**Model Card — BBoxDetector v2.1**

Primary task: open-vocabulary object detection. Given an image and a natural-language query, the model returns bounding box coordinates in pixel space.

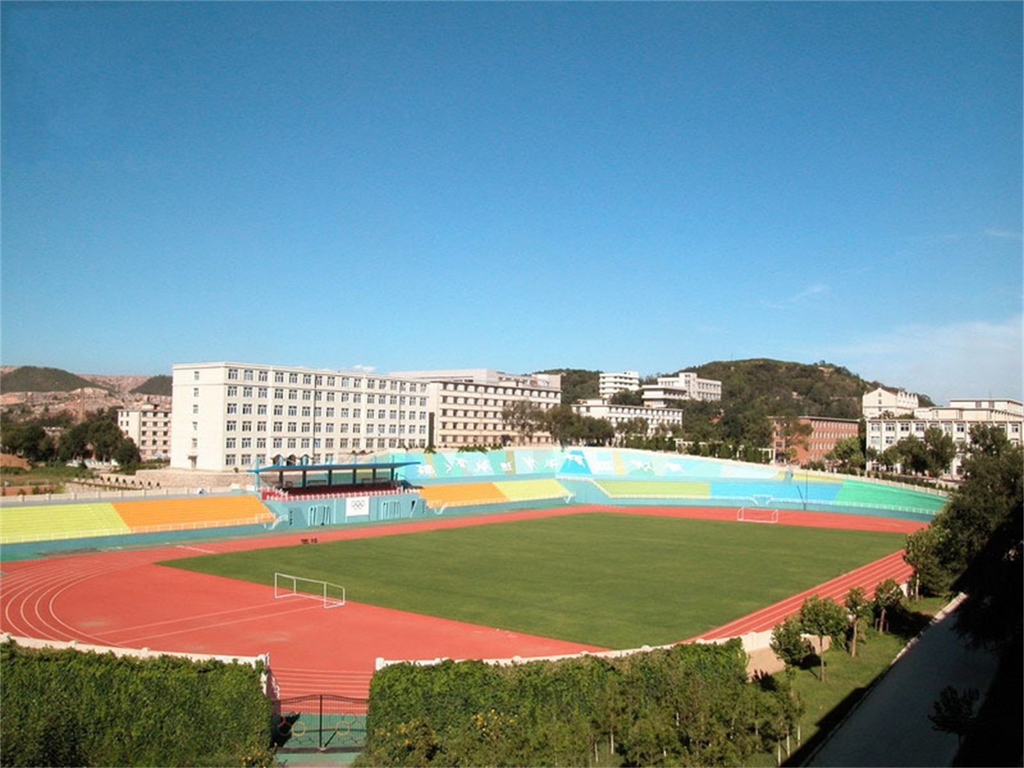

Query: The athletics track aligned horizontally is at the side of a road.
[0,505,948,715]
